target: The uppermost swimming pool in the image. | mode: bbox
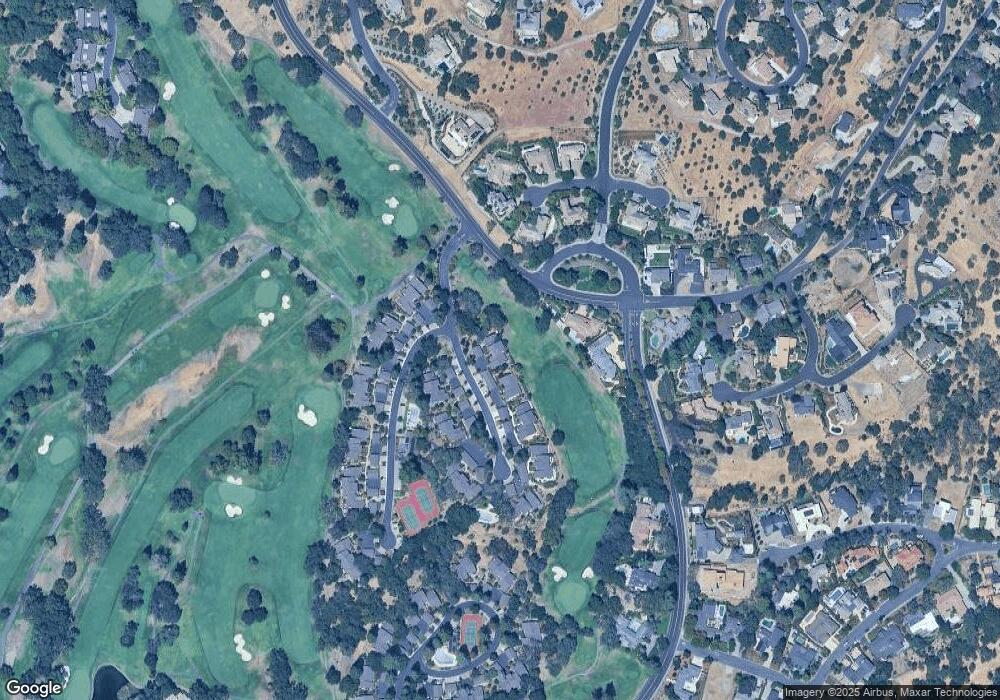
[657,23,673,37]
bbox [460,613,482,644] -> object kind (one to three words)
tennis court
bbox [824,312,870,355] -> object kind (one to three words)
house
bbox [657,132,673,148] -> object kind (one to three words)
swimming pool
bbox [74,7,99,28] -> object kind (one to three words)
house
